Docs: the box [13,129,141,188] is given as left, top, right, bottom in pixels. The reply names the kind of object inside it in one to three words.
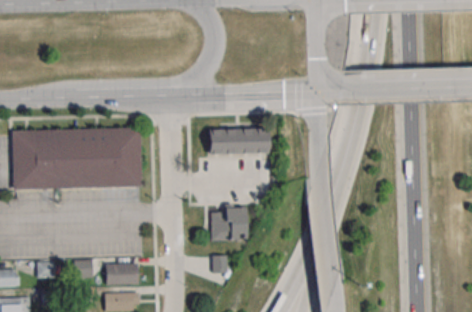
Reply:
building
